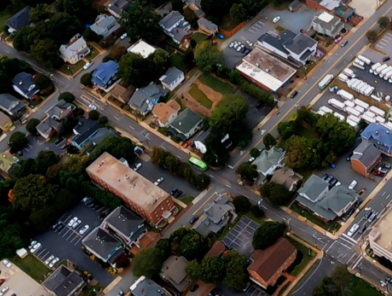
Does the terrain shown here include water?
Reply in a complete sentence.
No, no water is visible.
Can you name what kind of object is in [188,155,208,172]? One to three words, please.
vehicle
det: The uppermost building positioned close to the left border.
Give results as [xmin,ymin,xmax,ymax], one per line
[2,7,37,34]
